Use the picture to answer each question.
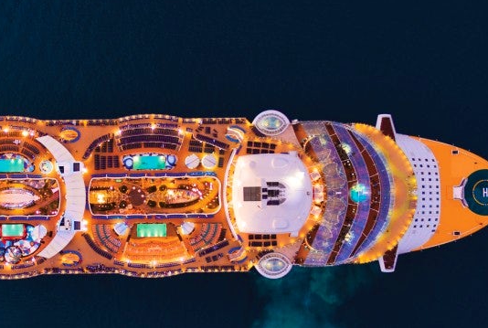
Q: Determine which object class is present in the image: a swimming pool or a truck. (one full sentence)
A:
It is a swimming pool that can be seen here.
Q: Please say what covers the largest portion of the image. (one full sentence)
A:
The largest share of the image is taken up by water.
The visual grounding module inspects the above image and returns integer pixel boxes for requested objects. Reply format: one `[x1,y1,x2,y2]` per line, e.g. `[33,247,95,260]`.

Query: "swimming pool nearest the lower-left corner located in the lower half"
[2,224,24,238]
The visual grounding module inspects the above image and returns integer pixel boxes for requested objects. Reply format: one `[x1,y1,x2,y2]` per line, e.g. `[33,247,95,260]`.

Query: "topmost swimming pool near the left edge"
[0,153,36,175]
